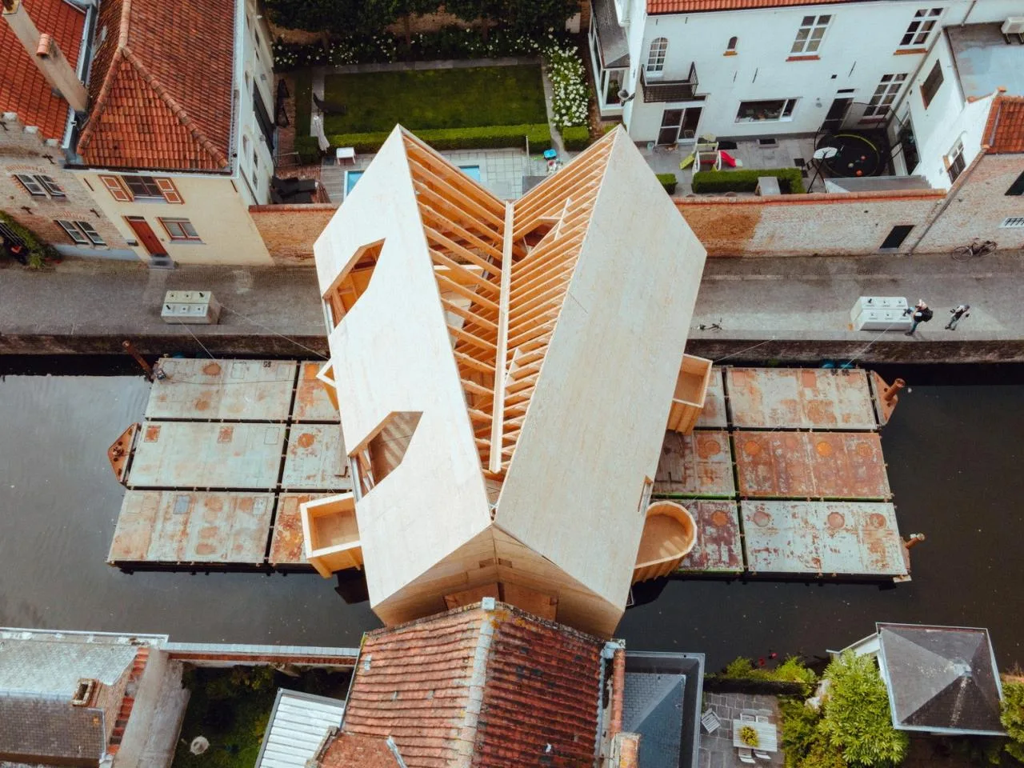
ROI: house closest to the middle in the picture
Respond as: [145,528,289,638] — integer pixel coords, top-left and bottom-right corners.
[298,125,714,640]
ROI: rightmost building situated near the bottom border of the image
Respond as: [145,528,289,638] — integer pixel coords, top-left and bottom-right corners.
[853,624,1007,736]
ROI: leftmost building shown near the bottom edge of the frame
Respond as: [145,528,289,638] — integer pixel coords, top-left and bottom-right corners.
[0,630,188,768]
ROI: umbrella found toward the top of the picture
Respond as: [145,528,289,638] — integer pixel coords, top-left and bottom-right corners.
[310,110,328,153]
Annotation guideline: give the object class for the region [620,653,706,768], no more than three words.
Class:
building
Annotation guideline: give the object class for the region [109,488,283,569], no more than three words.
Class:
pier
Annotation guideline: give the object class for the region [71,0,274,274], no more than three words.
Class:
house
